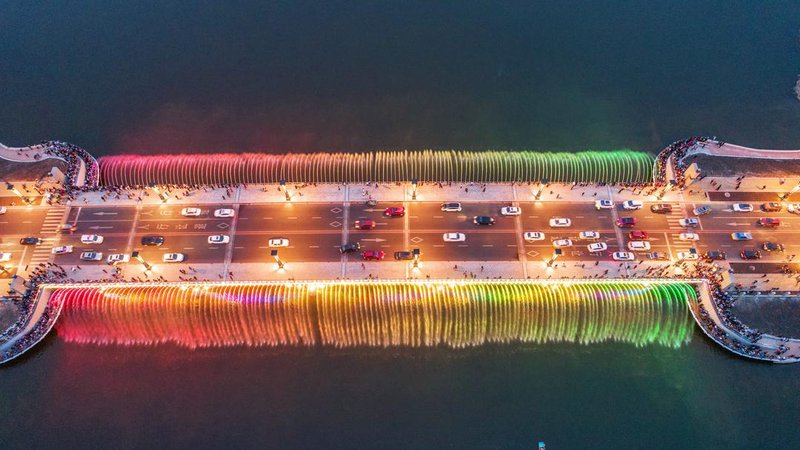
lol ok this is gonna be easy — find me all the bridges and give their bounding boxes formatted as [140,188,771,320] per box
[45,181,705,296]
